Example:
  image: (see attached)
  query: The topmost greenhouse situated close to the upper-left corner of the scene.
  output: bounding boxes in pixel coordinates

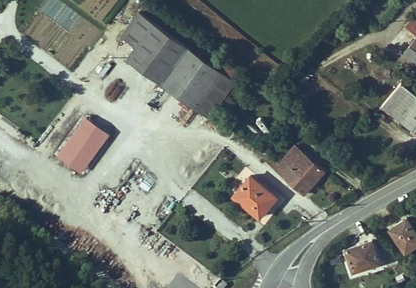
[40,0,81,33]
